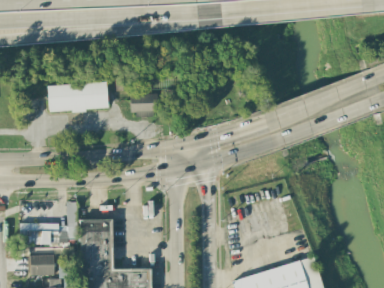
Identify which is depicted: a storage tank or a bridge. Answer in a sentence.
It is a bridge that can be seen here.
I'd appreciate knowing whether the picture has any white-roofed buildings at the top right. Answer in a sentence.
No, there's no white-roofed building to be seen at the top right.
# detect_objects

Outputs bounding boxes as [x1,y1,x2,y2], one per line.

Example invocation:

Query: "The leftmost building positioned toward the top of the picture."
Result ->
[47,81,110,112]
